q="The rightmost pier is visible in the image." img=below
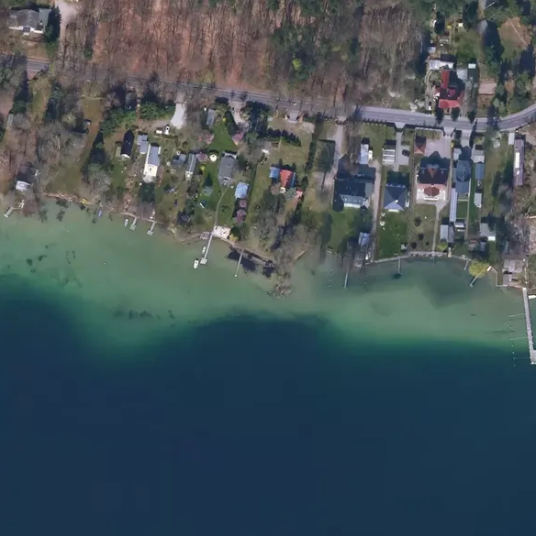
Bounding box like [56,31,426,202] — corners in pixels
[523,287,536,364]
